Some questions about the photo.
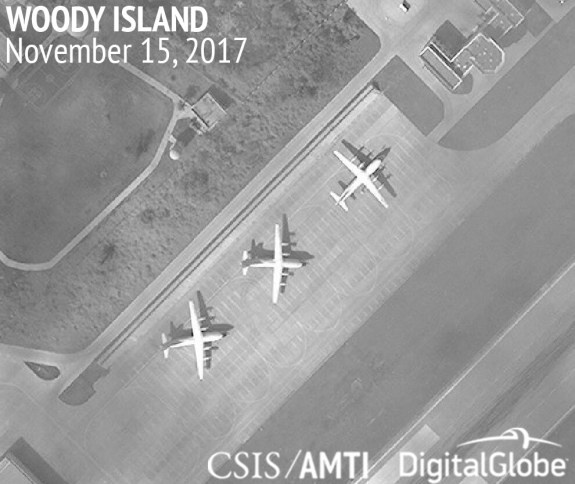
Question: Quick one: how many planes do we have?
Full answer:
The number of planes here is 3.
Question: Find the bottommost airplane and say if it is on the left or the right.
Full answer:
The bottommost airplane sits on the left side.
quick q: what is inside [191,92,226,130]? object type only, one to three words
house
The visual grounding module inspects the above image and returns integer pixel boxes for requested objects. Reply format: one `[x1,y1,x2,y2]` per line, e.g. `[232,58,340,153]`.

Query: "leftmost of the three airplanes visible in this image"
[161,302,230,379]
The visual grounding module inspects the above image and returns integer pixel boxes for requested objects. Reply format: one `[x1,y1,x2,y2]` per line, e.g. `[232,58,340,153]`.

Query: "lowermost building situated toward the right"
[421,31,503,90]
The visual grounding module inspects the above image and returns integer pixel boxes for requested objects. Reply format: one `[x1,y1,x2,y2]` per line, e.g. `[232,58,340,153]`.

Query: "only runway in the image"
[355,264,575,484]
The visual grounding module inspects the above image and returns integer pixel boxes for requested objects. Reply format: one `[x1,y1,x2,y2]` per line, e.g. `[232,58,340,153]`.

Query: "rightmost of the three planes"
[328,150,390,211]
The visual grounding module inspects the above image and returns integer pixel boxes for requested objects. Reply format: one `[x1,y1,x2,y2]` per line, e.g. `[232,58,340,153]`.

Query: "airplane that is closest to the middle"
[242,225,311,303]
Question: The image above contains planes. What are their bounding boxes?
[242,225,311,303]
[161,302,230,379]
[328,150,390,211]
